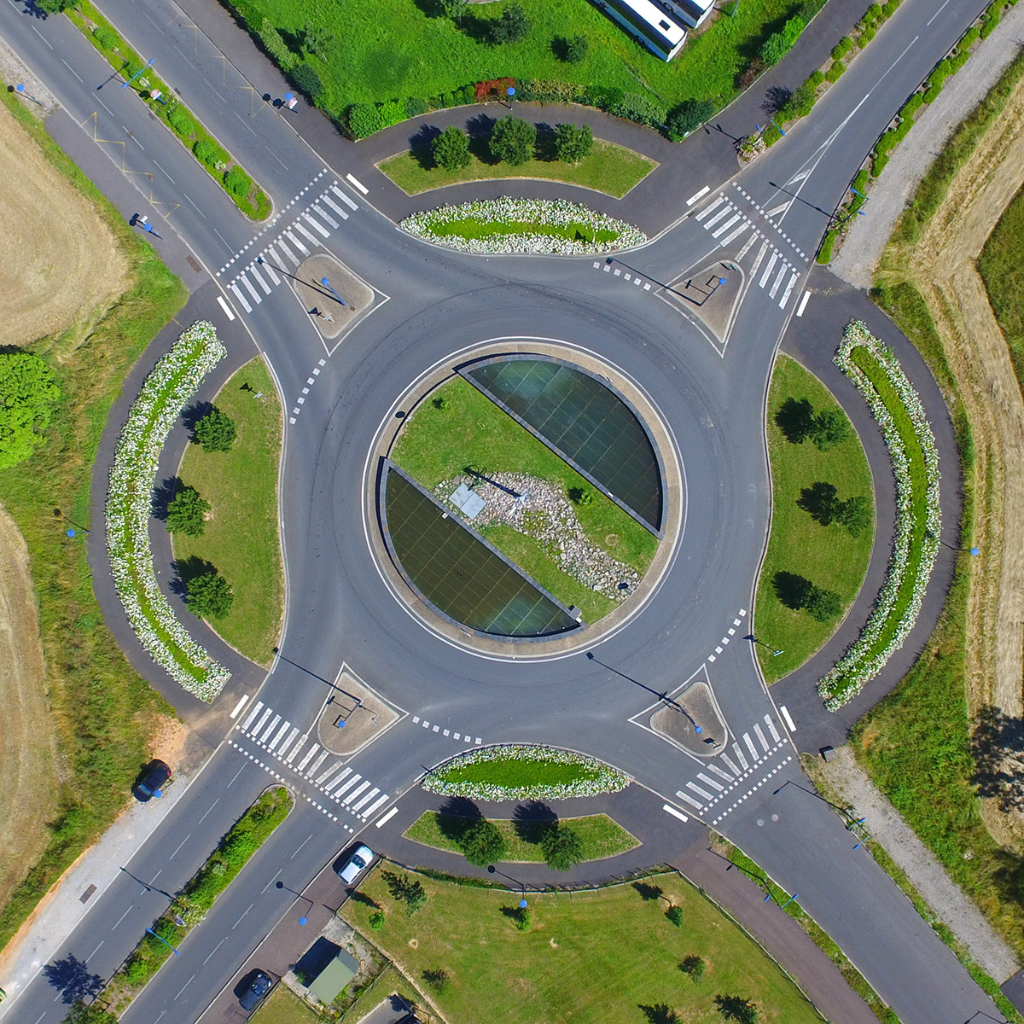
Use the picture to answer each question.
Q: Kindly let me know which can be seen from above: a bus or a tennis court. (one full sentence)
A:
The one in the frame is a bus.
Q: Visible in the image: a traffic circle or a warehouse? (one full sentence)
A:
Visible in the photo is a traffic circle.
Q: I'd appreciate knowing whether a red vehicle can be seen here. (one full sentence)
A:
No, there is no red vehicle in the image.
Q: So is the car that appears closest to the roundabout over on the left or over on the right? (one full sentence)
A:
You can find the car that appears closest to the roundabout on the left side of the picture.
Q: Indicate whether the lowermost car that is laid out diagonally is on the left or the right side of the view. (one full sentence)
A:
You can find the lowermost car that is laid out diagonally on the left side of the picture.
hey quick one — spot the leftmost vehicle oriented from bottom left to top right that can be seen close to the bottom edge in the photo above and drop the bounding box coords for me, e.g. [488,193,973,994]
[235,967,274,1014]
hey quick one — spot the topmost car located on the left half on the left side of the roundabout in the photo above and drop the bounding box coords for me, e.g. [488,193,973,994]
[134,757,172,803]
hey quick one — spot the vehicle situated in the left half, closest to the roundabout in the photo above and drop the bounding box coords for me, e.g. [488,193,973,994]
[334,845,375,889]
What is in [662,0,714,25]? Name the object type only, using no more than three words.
bus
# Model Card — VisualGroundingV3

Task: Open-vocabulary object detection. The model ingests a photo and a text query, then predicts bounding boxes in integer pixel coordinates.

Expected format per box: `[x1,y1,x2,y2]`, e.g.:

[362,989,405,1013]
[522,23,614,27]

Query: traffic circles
[266,216,785,781]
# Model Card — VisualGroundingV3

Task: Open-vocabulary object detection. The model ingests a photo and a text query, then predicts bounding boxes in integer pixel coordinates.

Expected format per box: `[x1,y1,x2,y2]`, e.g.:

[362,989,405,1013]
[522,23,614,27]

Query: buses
[662,0,714,25]
[589,0,688,59]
